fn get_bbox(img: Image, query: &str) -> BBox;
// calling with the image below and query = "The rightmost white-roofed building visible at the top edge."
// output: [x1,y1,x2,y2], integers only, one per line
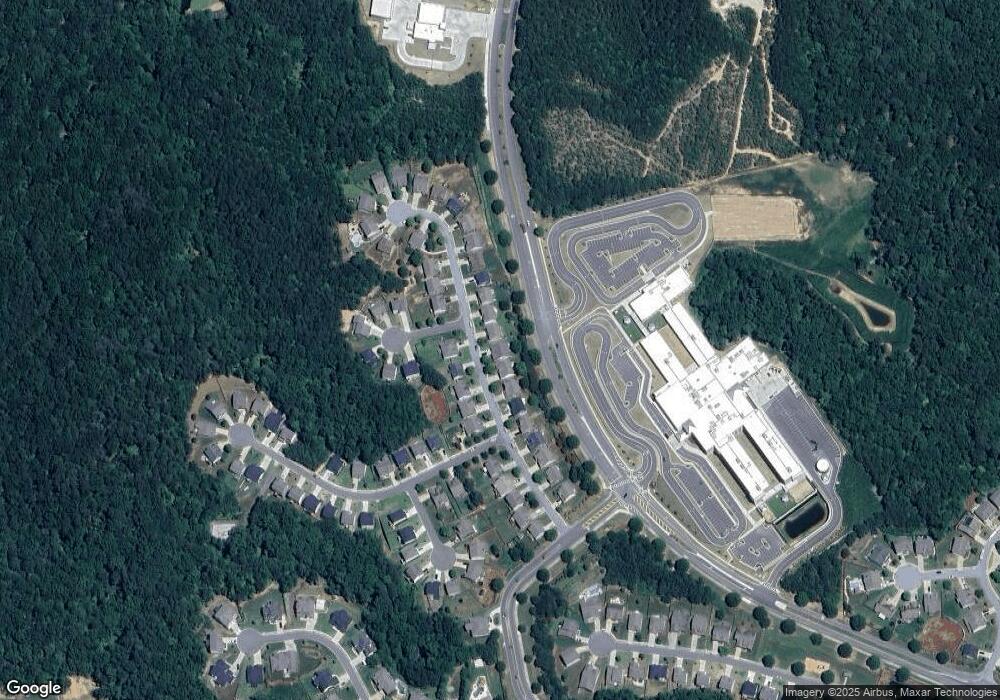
[414,1,446,50]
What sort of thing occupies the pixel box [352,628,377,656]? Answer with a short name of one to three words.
house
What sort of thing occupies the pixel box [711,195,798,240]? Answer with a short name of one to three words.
sports field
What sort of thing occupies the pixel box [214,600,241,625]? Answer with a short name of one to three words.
house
